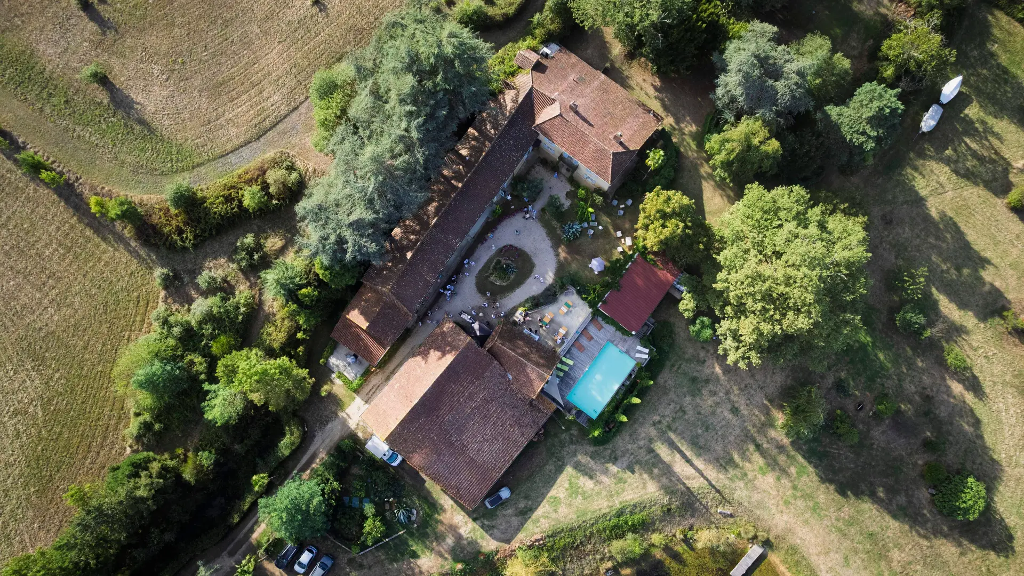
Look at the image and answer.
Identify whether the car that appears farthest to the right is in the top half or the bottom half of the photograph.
bottom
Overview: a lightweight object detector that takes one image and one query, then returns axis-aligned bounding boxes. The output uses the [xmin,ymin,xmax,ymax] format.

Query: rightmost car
[483,485,513,509]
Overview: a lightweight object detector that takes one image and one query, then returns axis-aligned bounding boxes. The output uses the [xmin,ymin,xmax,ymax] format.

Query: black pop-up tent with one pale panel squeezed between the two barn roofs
[469,321,492,345]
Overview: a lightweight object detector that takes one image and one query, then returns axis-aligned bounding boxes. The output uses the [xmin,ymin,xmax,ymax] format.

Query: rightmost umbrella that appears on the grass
[590,257,606,271]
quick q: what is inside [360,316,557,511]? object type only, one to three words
barn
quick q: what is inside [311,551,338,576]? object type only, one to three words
car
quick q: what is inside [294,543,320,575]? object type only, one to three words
car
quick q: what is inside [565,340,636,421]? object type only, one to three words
swimming pool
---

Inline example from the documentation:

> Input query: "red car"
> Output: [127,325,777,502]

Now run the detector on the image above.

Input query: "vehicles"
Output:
[294,543,320,575]
[275,541,305,570]
[483,485,513,509]
[358,433,403,468]
[311,551,338,576]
